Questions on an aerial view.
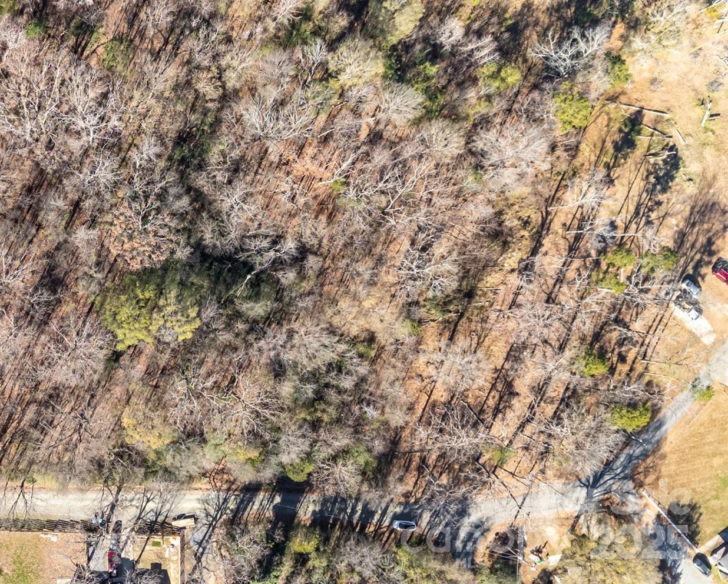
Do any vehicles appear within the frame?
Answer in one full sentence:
Yes, the image includes a vehicle.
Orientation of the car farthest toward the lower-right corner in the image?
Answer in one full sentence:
Seen from above, the car farthest toward the lower-right corner lies at an angle.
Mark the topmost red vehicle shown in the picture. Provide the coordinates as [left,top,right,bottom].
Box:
[713,263,728,283]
